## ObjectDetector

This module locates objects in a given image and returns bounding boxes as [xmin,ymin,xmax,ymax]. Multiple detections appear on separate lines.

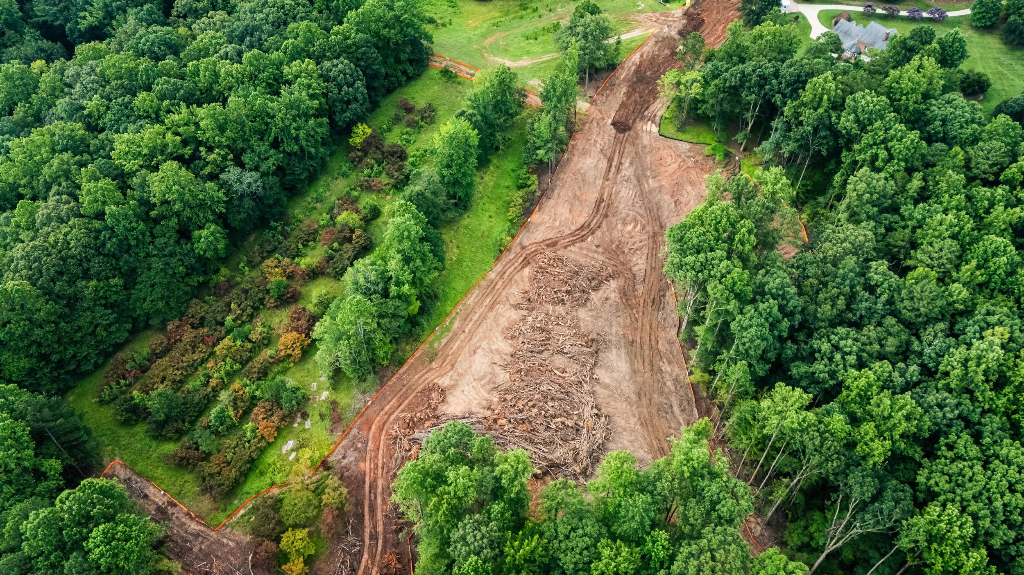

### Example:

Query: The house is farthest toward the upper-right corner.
[834,18,905,61]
